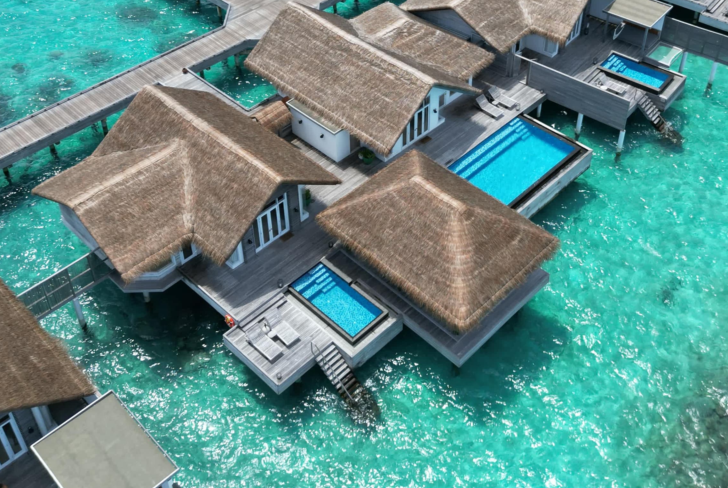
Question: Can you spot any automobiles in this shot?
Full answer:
No, no automobile is visible in the scene.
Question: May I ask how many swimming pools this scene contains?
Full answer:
In total, there are 3 swimming pools in the scene.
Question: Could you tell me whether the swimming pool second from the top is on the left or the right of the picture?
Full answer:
You can find the swimming pool second from the top on the right side of the picture.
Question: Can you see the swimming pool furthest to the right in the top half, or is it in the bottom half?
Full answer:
The swimming pool furthest to the right sits in the top half of the picture.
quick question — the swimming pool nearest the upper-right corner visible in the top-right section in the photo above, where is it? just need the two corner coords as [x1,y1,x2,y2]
[596,50,687,112]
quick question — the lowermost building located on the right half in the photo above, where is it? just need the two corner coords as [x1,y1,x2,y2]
[307,149,567,385]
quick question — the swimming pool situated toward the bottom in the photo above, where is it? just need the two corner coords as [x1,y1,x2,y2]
[283,258,403,368]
